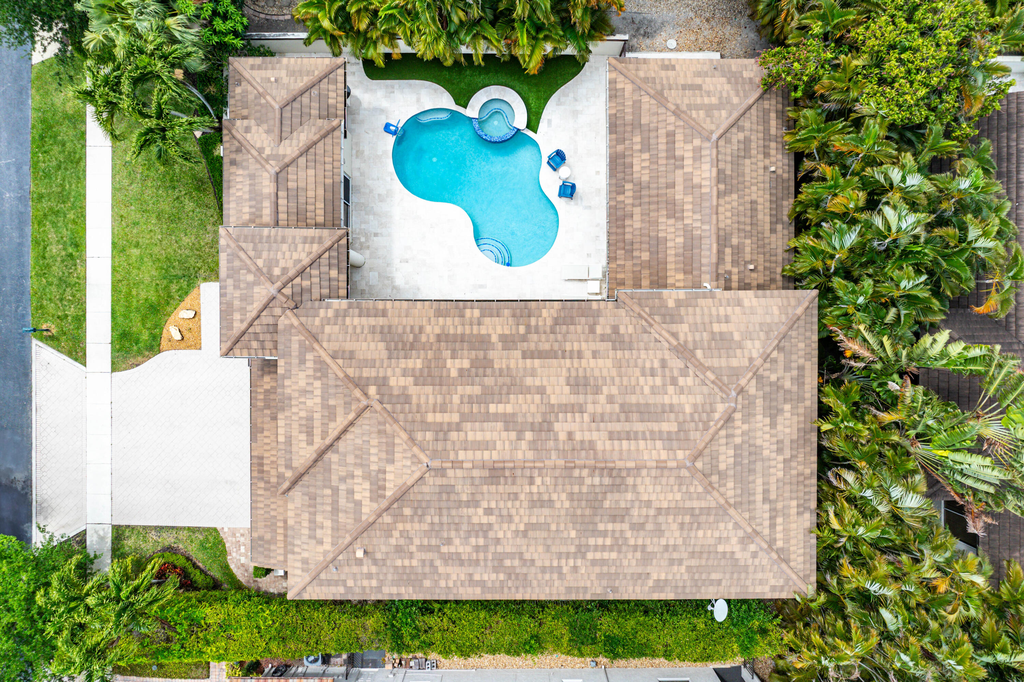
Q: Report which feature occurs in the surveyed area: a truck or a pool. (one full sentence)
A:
Looking from above, you can make out a pool.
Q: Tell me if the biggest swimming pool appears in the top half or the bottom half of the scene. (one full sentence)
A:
You can find the biggest swimming pool in the top half.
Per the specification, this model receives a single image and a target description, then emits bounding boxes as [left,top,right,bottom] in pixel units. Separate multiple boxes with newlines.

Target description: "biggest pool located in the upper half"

[386,101,565,273]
